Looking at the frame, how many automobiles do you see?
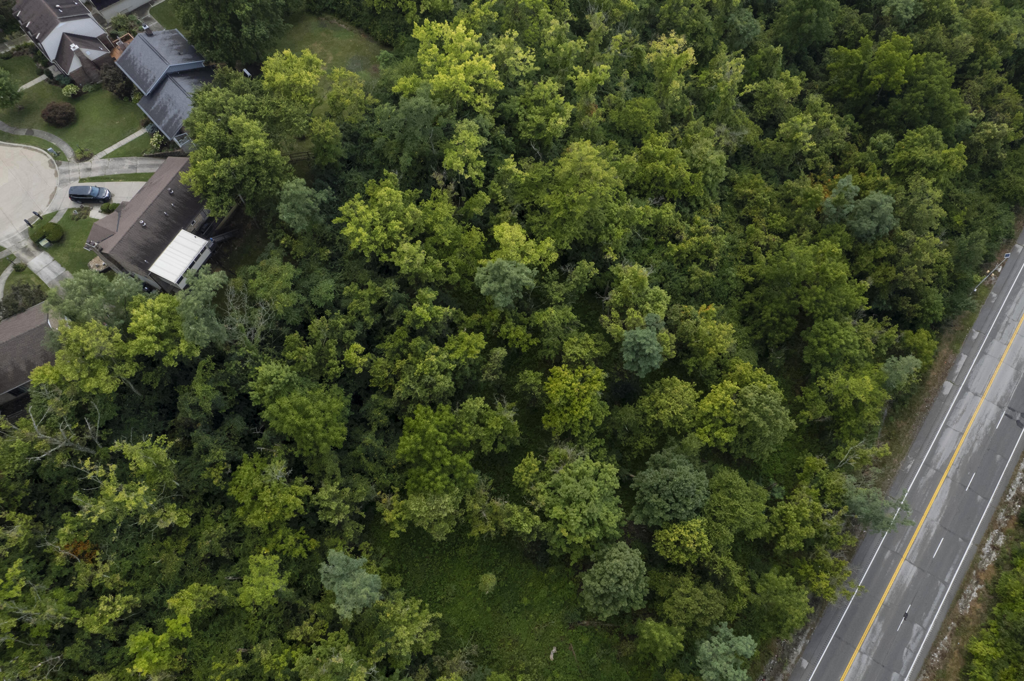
1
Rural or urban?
rural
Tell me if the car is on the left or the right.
left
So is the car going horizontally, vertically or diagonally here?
horizontally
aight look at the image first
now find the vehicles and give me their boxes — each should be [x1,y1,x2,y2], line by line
[64,182,112,203]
